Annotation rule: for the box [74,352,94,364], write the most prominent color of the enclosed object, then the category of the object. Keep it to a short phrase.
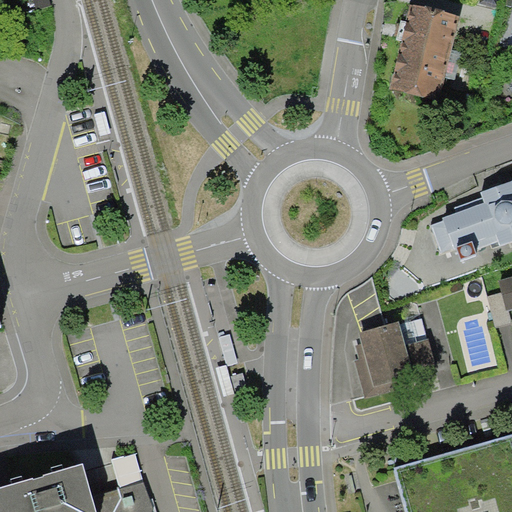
white vehicle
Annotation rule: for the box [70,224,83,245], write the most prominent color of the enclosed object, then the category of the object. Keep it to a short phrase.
white vehicle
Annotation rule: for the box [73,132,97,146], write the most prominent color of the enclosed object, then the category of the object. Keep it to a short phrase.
white car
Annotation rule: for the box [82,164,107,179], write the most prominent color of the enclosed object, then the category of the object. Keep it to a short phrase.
white car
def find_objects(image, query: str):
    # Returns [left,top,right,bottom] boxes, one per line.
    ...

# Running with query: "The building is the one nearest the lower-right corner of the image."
[394,436,512,512]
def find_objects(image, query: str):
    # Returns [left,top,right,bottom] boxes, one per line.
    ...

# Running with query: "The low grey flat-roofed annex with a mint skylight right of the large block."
[112,480,156,512]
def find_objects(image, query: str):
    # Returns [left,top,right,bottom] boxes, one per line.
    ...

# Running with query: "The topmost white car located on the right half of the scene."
[366,218,381,242]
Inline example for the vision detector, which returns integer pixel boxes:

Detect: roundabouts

[238,136,392,290]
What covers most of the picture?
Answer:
paved ground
